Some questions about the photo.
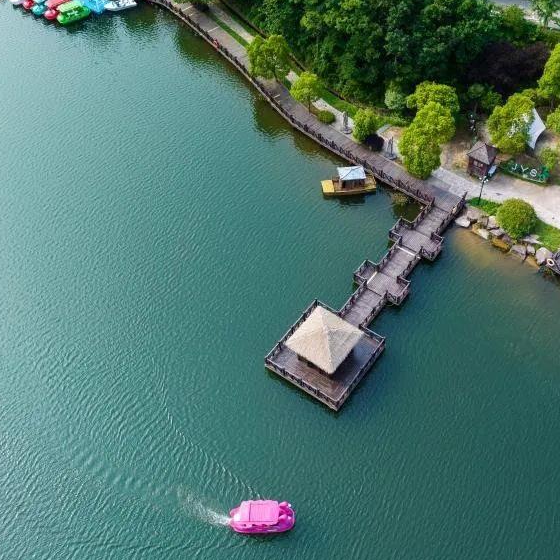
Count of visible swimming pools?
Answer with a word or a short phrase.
0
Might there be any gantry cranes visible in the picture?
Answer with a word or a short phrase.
No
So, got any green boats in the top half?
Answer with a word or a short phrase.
Yes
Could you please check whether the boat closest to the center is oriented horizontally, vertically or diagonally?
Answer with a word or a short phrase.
horizontally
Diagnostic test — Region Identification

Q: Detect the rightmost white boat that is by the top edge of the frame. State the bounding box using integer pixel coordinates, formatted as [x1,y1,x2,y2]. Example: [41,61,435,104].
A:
[100,0,139,14]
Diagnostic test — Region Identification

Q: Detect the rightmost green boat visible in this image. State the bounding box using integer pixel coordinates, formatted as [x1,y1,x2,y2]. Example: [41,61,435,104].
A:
[58,0,90,25]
